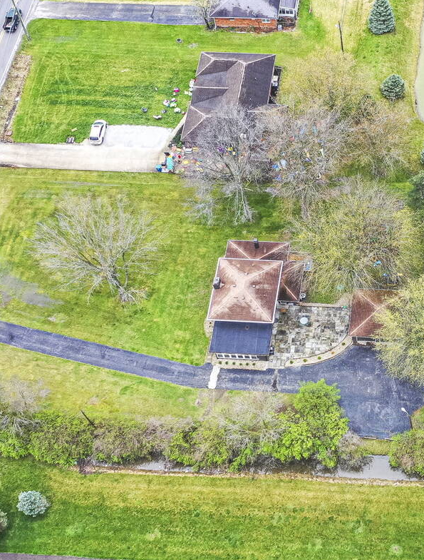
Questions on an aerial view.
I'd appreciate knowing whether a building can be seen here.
Yes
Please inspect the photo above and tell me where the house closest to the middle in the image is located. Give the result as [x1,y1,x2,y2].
[206,231,312,367]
